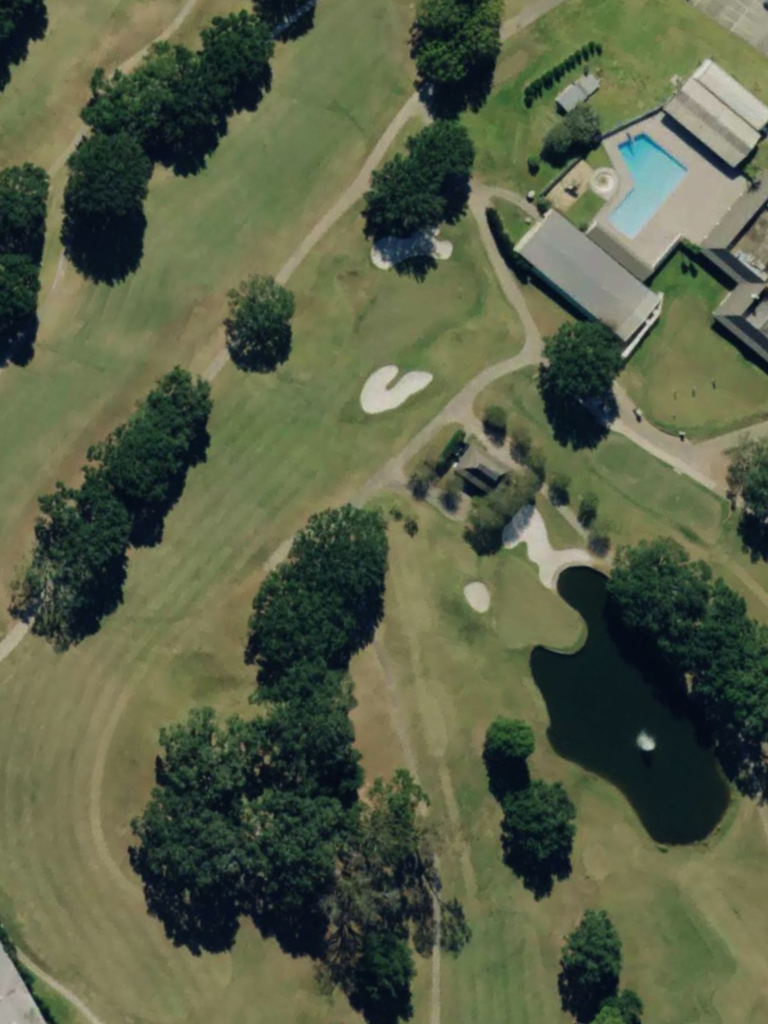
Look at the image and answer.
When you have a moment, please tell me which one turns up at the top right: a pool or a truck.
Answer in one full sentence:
What appears at the top right is a pool.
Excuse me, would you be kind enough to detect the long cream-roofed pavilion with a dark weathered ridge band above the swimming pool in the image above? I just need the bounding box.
[664,59,768,169]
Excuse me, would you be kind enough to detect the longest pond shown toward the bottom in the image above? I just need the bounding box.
[529,566,731,846]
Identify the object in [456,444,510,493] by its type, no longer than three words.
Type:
shed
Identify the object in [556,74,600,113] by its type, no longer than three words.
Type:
shed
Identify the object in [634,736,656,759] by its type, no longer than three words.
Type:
fountain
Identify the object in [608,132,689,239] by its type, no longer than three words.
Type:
swimming pool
